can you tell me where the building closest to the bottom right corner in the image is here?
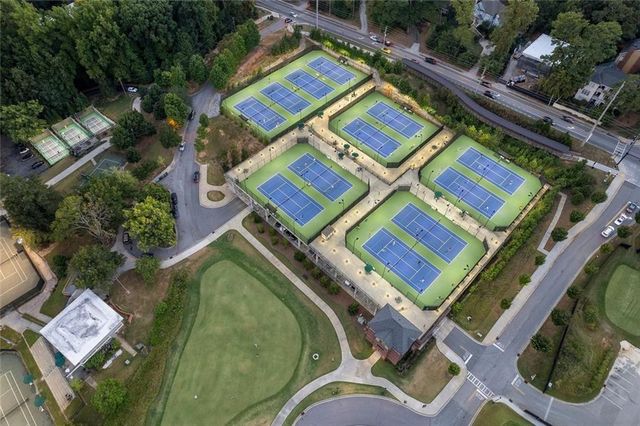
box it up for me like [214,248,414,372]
[367,299,429,360]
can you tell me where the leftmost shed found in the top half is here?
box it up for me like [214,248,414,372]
[70,136,103,159]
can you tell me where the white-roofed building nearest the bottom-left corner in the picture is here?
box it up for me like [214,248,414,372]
[41,292,131,371]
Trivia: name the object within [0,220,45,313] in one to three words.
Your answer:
tennis court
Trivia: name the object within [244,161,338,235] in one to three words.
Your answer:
tennis court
